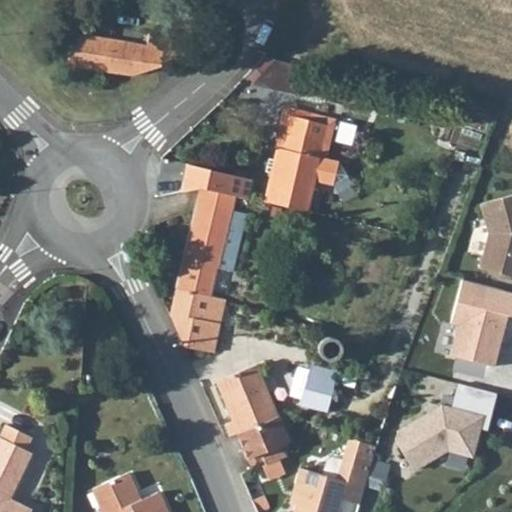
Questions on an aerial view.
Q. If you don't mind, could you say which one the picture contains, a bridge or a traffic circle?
traffic circle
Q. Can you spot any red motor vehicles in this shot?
No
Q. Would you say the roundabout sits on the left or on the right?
left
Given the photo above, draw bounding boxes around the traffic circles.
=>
[13,128,150,280]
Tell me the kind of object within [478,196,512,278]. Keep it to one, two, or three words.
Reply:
house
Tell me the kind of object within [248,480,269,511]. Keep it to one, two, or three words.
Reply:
shed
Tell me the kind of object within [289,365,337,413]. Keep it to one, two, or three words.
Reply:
building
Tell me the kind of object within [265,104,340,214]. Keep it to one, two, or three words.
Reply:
house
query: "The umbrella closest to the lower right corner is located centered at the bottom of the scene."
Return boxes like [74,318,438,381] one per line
[274,387,288,400]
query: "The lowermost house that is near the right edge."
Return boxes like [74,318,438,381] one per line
[396,384,498,472]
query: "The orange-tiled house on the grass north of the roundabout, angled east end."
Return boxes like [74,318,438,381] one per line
[68,36,164,76]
